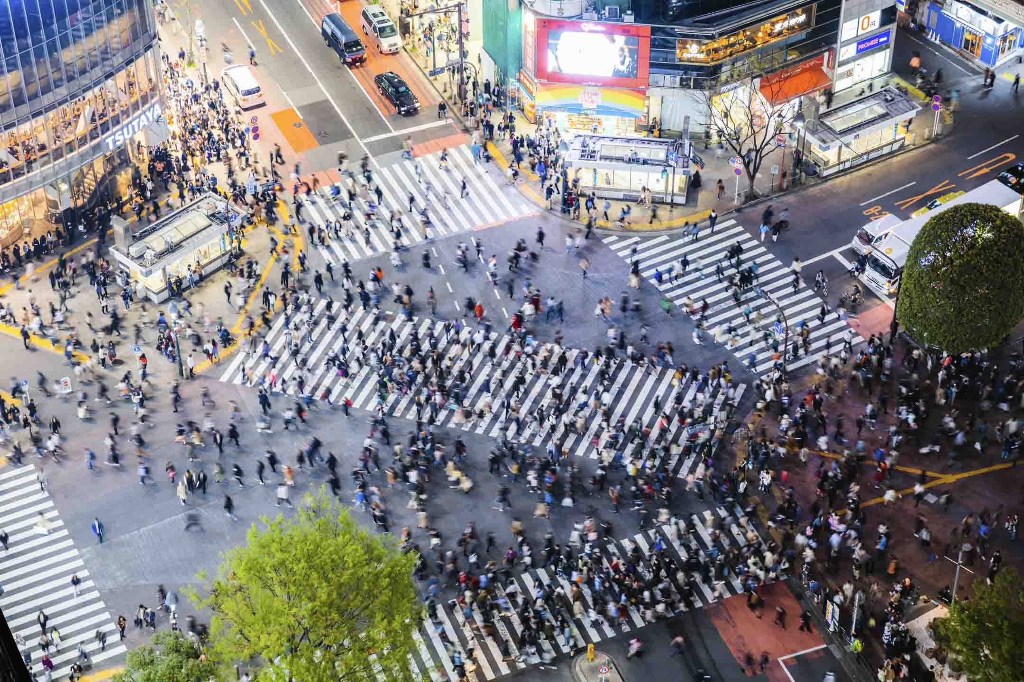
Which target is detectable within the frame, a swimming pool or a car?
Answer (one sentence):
Visible in the photo is a car.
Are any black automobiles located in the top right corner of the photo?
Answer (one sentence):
Yes, in the top right corner of the photo there is a black automobile.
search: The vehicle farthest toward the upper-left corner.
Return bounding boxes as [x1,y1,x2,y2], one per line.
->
[223,67,266,109]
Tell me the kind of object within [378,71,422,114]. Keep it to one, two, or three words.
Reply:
car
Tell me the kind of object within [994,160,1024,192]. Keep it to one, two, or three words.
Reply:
car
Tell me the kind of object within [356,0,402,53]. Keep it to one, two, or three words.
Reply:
van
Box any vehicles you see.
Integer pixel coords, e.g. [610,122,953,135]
[378,71,422,114]
[356,0,402,53]
[994,160,1024,192]
[847,262,864,281]
[908,193,967,221]
[223,67,266,109]
[856,214,909,257]
[319,7,367,67]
